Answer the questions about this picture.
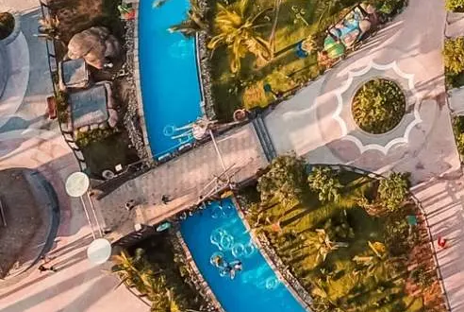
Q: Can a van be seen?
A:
No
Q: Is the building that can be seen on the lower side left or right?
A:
left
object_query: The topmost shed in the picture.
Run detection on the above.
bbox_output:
[57,59,93,89]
